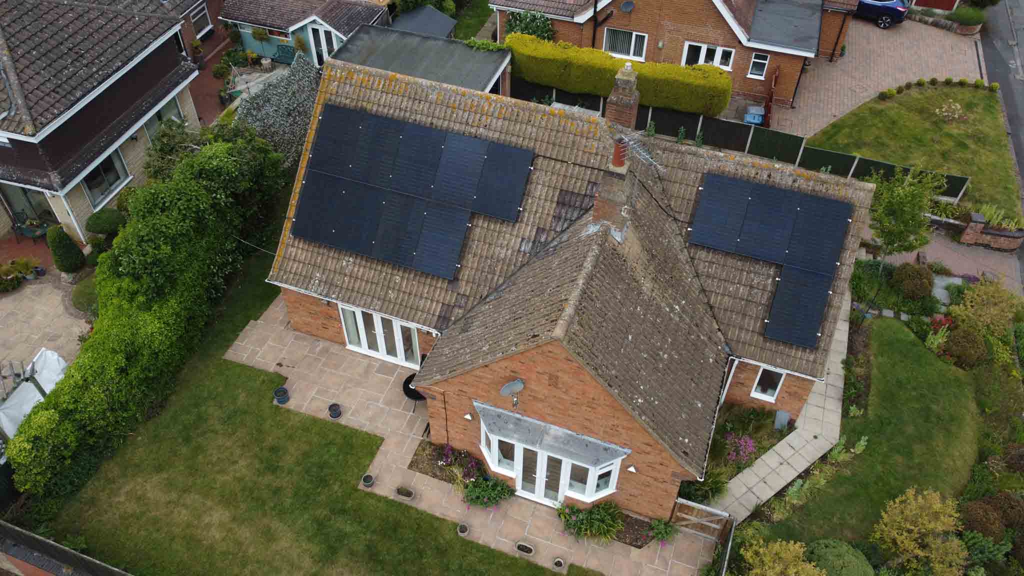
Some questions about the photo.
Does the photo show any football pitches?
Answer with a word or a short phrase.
No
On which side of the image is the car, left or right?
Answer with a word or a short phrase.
right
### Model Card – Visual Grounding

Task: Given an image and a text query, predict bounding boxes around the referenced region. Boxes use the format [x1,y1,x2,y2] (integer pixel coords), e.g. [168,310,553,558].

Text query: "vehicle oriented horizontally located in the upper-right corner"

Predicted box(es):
[848,0,914,27]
